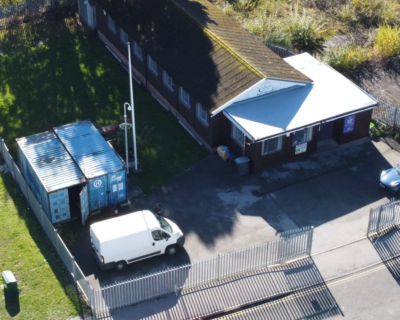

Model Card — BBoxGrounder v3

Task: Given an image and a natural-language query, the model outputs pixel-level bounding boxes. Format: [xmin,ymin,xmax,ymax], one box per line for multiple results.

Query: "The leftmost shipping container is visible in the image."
[18,129,91,225]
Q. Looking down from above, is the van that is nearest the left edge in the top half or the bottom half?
bottom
